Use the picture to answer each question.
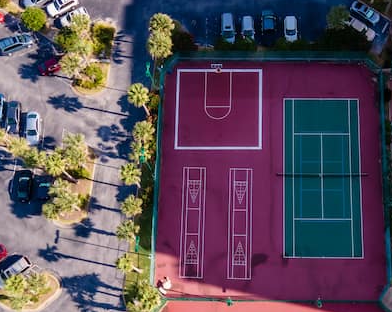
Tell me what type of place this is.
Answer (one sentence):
The picture captures a sports ground.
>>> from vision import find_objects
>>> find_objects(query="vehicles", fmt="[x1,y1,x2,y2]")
[24,0,53,8]
[4,101,23,133]
[0,93,6,123]
[25,112,42,143]
[36,56,65,79]
[35,172,54,205]
[240,14,256,44]
[60,6,91,30]
[261,8,277,41]
[283,14,299,45]
[348,0,379,25]
[344,15,378,44]
[0,244,8,260]
[220,11,236,44]
[0,35,34,55]
[47,0,79,18]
